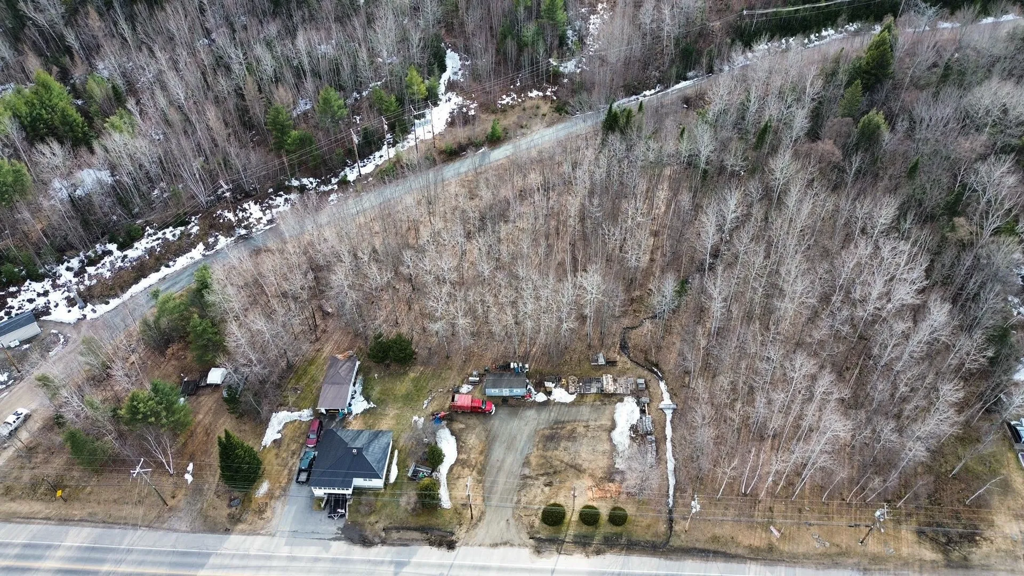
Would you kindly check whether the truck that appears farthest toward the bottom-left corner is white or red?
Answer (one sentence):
The color of the truck that appears farthest toward the bottom-left corner is white.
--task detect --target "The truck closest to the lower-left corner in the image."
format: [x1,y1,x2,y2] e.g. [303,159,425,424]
[0,408,35,442]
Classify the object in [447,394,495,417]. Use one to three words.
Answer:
truck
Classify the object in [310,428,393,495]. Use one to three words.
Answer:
house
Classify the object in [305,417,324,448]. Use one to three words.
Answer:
car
